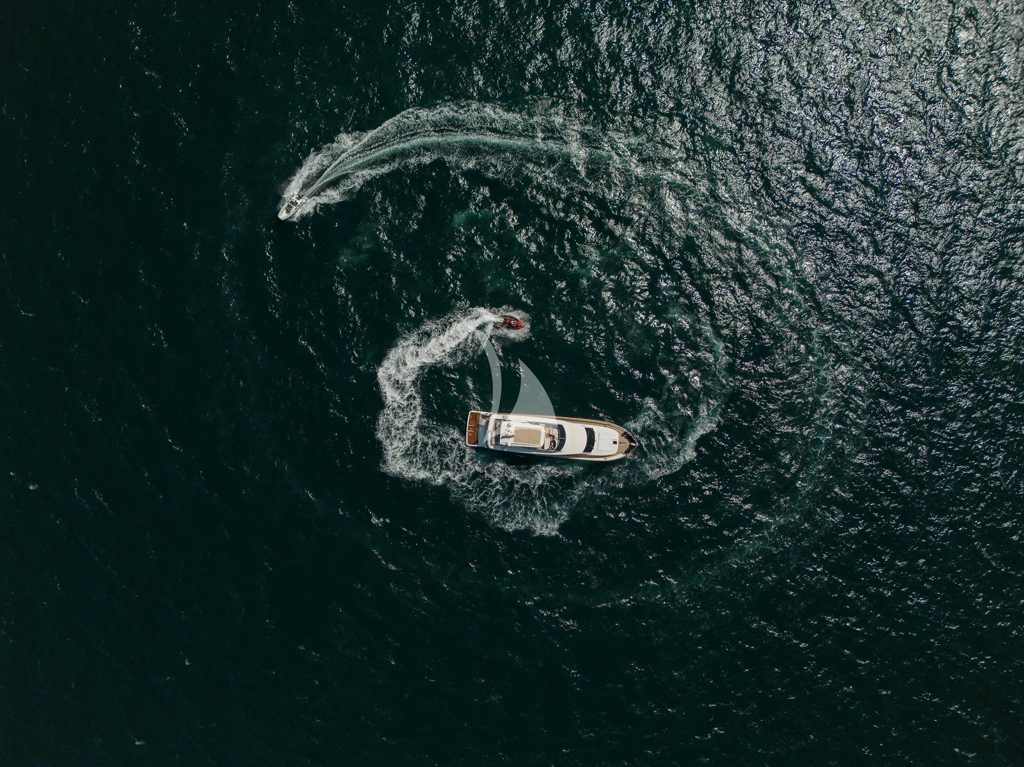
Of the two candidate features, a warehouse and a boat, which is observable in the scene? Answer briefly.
boat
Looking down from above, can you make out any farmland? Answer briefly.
No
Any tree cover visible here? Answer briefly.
No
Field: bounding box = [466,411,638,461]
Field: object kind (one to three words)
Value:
boat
